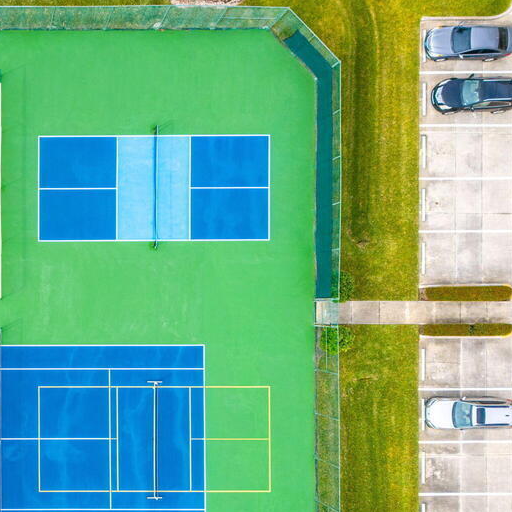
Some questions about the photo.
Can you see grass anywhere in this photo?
Yes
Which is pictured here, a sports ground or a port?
sports ground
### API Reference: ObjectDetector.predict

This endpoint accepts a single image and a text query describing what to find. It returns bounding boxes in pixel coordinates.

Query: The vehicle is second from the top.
[427,72,512,114]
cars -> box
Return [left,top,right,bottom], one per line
[427,72,512,114]
[422,20,511,62]
[423,395,512,434]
